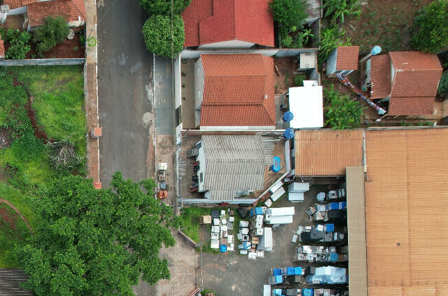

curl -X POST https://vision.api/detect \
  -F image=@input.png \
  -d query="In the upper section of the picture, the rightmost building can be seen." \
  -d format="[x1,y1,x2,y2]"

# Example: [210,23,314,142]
[361,52,444,120]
